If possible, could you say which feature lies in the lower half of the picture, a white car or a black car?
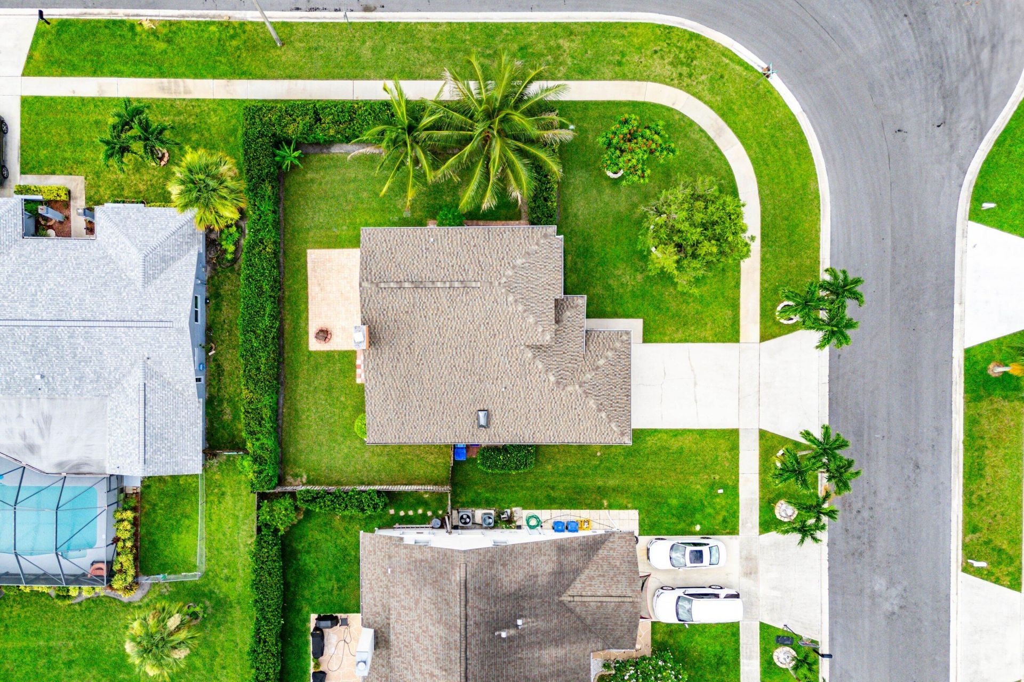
white car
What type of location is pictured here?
residential area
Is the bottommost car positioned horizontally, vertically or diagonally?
horizontally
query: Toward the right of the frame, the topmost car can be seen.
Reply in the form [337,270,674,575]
[643,533,727,572]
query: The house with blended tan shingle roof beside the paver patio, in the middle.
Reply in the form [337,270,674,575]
[352,224,634,447]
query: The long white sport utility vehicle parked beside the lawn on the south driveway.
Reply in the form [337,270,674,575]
[650,582,742,626]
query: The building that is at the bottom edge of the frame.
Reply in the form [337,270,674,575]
[355,525,641,682]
